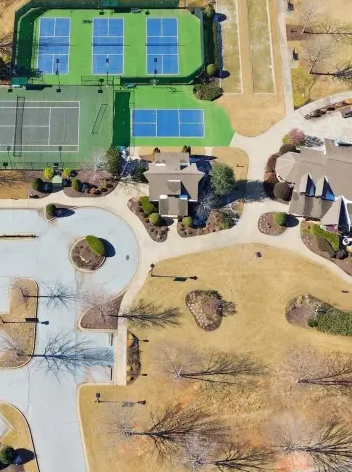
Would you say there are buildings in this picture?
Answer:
Yes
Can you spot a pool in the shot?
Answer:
No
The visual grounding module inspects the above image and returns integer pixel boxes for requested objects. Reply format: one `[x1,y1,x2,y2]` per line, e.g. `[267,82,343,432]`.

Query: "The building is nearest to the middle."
[143,151,205,220]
